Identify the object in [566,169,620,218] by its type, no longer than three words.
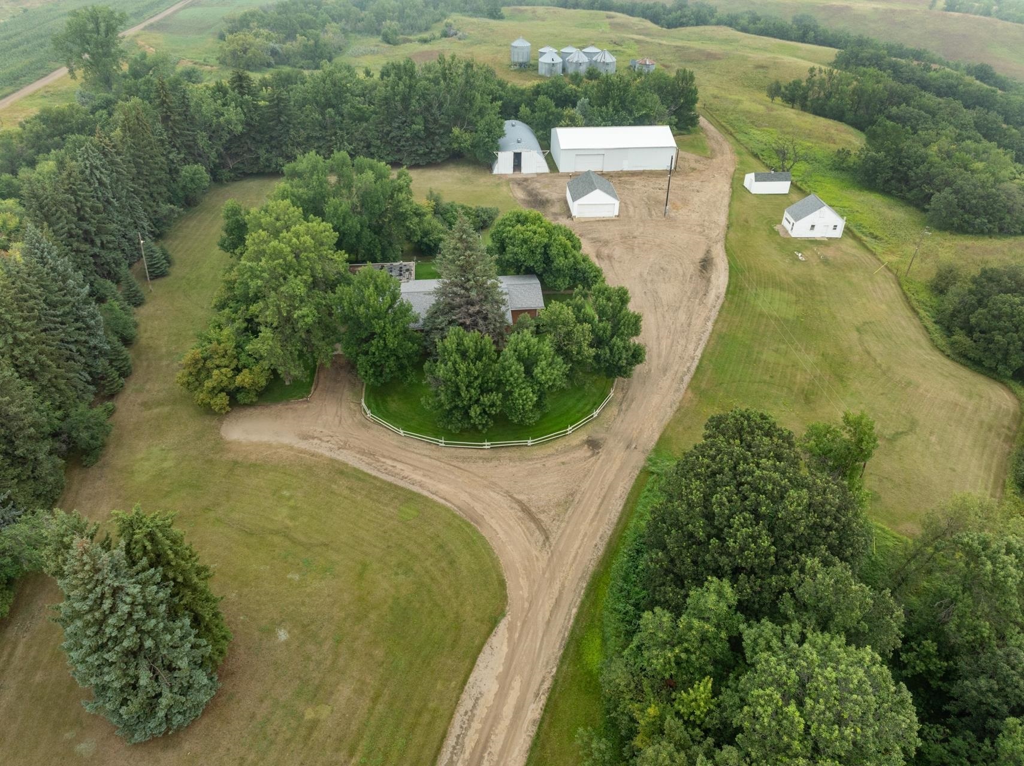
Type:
building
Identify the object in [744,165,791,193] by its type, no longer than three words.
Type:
shed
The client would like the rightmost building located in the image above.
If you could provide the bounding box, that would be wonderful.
[779,192,845,237]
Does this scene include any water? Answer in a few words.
No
